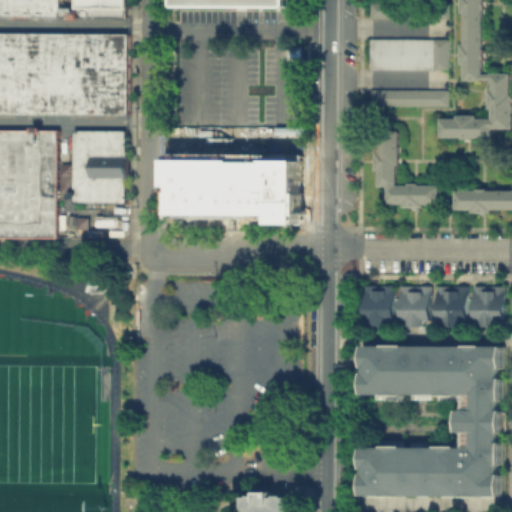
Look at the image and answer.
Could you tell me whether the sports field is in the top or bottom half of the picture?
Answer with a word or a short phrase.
bottom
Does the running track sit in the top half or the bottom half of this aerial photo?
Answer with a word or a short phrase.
bottom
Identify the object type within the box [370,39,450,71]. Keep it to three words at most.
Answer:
building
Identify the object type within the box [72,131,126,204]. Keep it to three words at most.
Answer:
building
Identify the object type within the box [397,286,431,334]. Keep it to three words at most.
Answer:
house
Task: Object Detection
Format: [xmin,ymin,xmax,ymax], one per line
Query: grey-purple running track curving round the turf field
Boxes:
[0,268,120,512]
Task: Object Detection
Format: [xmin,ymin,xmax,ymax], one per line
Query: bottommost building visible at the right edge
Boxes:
[354,344,496,498]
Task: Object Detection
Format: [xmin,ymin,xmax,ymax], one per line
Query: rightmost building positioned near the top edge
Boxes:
[438,0,510,139]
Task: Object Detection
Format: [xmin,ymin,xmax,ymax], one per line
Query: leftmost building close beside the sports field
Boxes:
[0,128,58,239]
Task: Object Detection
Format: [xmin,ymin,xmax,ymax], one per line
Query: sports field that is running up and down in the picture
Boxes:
[0,276,111,512]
